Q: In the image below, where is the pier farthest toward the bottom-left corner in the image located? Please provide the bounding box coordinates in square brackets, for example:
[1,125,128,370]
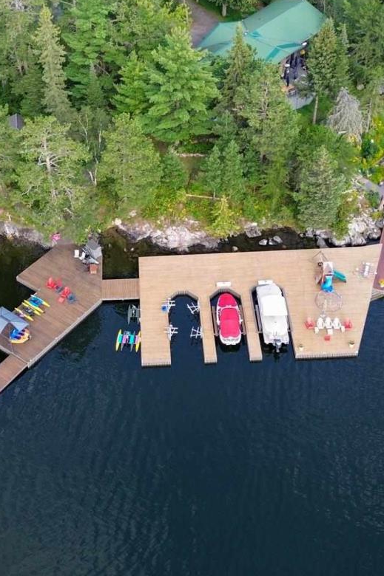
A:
[0,242,103,366]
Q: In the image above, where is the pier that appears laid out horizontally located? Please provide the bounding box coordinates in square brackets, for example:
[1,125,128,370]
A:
[139,244,383,367]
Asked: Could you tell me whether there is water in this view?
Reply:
Yes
